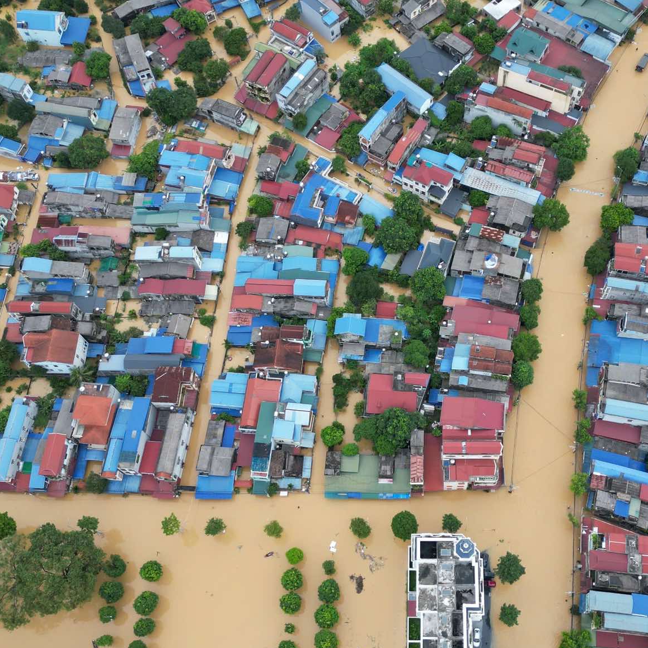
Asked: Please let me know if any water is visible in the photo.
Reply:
Yes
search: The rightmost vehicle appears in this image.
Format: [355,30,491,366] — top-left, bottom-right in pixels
[632,53,648,77]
